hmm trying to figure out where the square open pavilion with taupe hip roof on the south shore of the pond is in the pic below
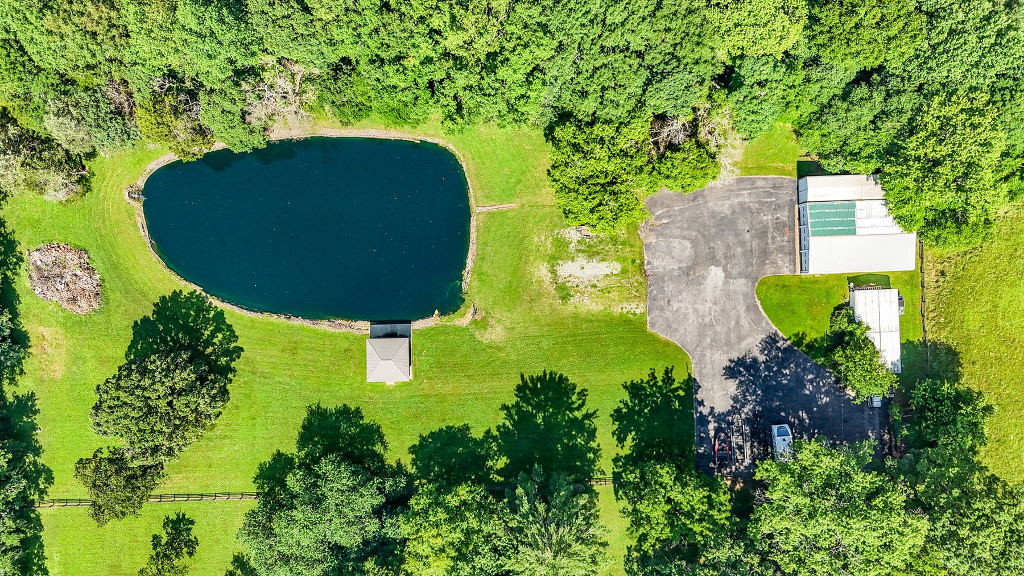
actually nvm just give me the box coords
[366,320,413,385]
